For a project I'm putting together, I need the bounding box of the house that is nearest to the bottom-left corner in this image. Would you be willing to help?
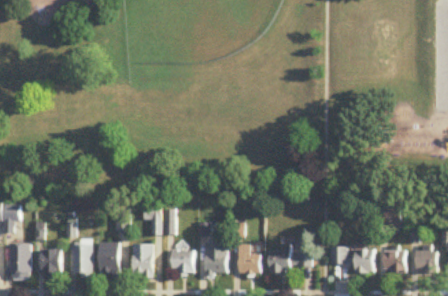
[13,244,34,280]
